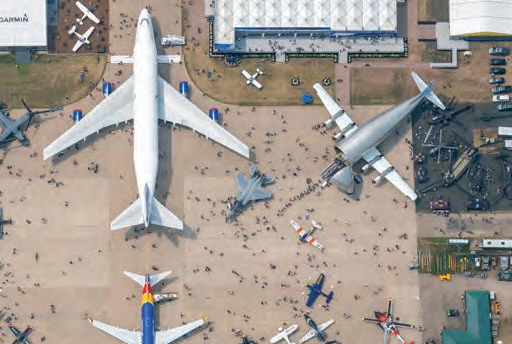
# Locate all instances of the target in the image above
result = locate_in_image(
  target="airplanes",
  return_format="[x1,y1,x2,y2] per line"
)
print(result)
[241,67,263,90]
[0,206,13,239]
[240,337,256,344]
[317,74,440,198]
[68,24,94,52]
[75,0,101,26]
[299,313,338,344]
[292,217,323,252]
[90,272,205,344]
[0,99,56,148]
[269,322,299,344]
[306,274,334,307]
[10,325,32,344]
[228,163,274,219]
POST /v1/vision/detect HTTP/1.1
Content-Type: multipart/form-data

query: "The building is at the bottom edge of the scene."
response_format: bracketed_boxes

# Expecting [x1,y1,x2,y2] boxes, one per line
[442,291,493,344]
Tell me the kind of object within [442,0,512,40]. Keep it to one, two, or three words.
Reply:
building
